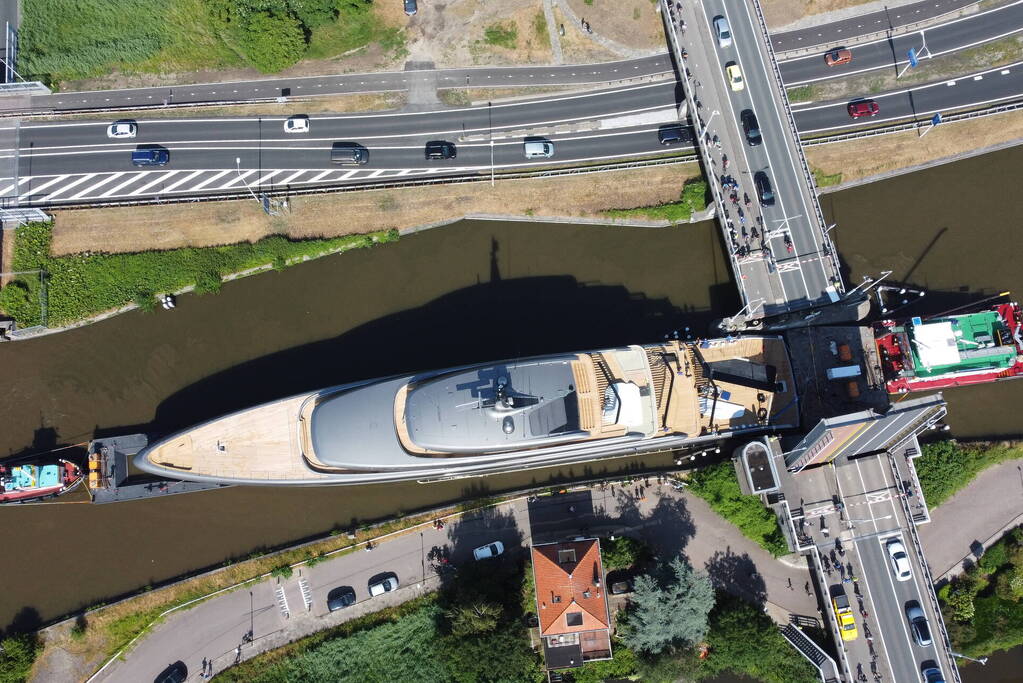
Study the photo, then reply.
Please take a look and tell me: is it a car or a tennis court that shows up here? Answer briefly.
car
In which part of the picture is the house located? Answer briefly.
bottom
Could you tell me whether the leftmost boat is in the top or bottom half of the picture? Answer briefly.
bottom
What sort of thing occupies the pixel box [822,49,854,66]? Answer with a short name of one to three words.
car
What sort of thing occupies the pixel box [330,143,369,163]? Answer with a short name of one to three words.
vehicle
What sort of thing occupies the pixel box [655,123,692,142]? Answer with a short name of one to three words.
car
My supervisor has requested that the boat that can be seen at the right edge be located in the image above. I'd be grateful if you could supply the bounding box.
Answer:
[877,290,1023,396]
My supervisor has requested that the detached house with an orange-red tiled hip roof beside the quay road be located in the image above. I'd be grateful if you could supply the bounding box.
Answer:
[530,537,610,671]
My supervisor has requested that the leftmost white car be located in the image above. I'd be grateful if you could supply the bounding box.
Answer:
[107,122,139,138]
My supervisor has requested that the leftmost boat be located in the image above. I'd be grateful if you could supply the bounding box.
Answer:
[0,457,89,505]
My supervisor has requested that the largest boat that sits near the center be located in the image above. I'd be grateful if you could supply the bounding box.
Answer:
[133,335,805,484]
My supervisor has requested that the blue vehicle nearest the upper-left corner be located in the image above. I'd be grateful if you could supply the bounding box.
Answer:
[131,147,170,166]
